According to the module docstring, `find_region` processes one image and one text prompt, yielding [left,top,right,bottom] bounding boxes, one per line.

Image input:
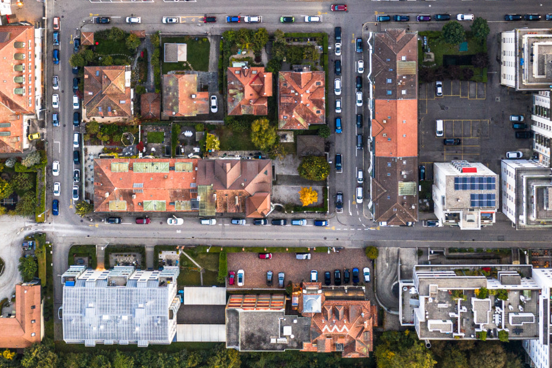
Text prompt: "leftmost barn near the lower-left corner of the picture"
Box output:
[0,280,45,348]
